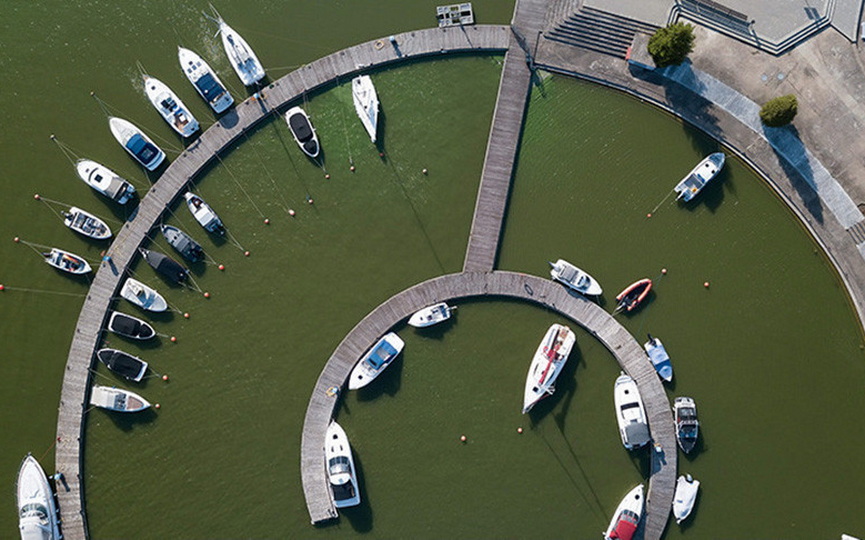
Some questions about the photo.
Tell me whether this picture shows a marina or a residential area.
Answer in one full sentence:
The picture captures a marina.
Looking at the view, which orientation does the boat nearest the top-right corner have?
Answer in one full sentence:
The boat nearest the top-right corner is laid out on a diagonal.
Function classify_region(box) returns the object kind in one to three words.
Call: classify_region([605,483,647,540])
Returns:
boat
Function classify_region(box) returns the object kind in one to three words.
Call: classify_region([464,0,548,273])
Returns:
pier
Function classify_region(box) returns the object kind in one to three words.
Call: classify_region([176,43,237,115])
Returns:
boat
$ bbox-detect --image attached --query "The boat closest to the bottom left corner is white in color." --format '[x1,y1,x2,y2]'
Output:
[14,453,67,540]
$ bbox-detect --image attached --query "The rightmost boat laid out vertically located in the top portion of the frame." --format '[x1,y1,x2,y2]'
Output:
[351,75,382,142]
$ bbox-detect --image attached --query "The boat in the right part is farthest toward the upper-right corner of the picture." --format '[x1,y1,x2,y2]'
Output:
[672,151,729,203]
